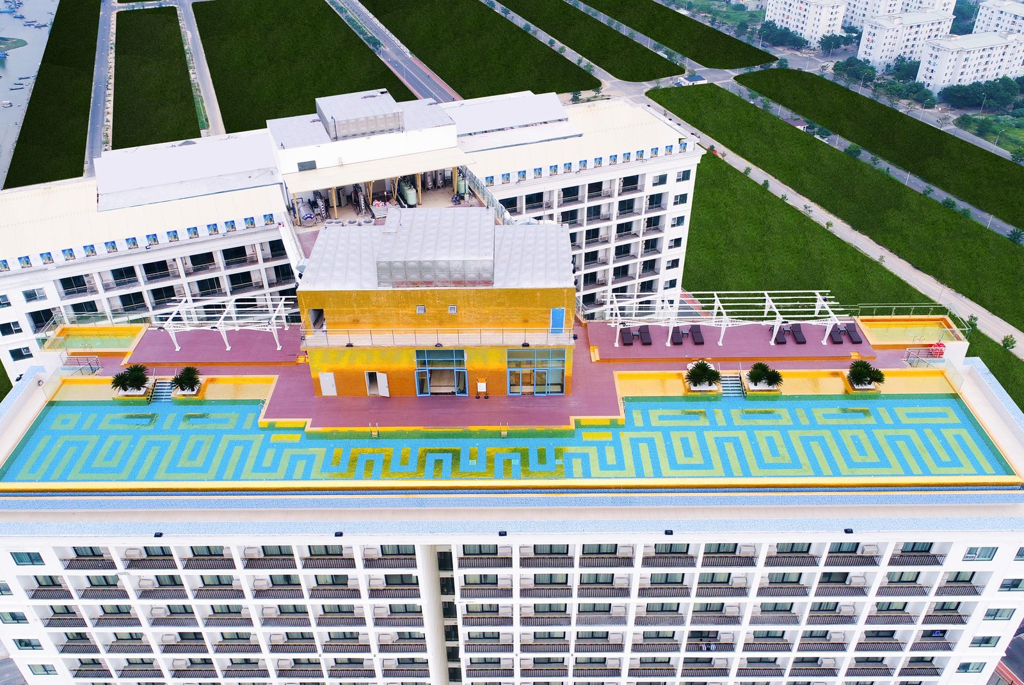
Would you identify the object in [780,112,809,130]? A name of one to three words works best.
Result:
shed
